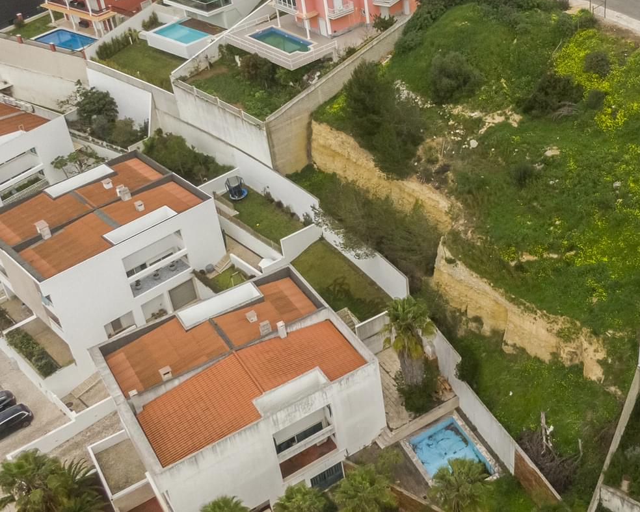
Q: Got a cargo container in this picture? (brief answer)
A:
No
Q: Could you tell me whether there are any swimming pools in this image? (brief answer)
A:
Yes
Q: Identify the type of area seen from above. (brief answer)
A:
residential area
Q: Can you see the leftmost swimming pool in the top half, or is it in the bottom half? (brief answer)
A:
top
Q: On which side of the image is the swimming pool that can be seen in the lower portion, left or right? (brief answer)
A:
right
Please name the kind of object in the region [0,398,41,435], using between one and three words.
car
